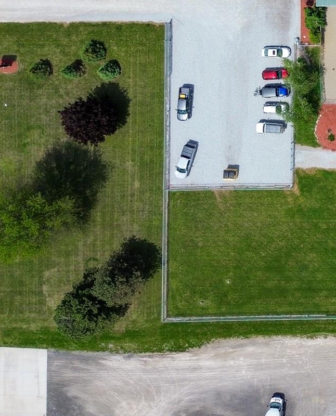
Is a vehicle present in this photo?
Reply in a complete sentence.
Yes, the frame does contain a vehicle.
